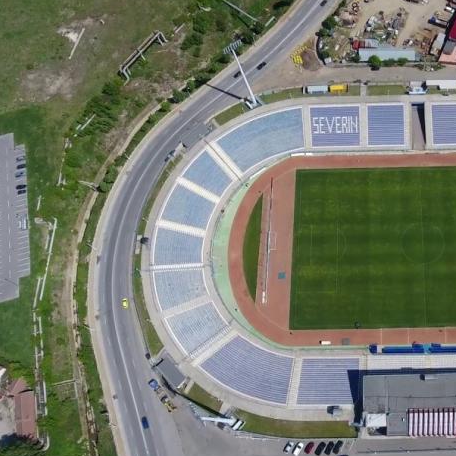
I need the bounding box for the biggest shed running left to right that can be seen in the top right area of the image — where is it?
[359,48,415,65]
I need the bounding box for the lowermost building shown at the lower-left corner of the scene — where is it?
[14,395,44,438]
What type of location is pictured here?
sports ground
